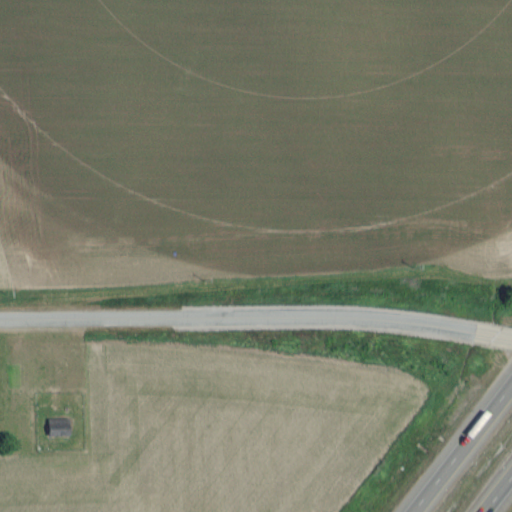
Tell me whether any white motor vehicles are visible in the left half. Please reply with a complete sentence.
No, I can find no white motor vehicle in the left half.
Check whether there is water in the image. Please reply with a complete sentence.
No, no water is visible.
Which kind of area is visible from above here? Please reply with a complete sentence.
This looks like farmland.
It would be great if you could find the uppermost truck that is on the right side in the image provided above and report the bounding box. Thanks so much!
[462,411,491,444]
